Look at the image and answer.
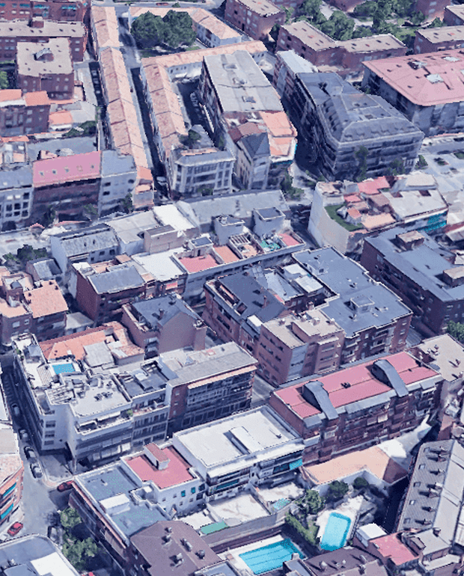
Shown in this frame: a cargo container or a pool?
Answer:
pool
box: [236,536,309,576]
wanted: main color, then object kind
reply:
blue swimming pool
